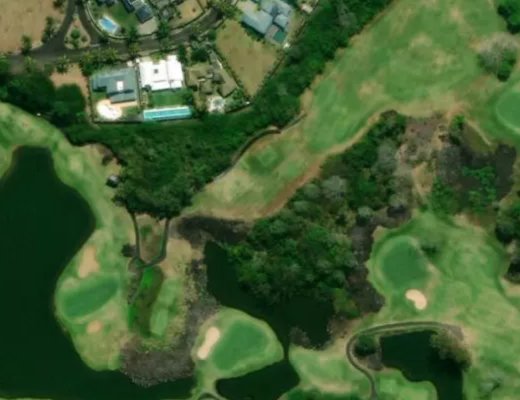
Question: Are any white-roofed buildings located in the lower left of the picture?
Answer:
No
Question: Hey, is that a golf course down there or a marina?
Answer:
golf course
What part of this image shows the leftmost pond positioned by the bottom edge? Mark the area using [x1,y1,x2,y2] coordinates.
[205,242,333,400]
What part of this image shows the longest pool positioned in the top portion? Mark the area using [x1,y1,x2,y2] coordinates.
[144,106,189,121]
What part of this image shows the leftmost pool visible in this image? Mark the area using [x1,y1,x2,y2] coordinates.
[98,15,121,35]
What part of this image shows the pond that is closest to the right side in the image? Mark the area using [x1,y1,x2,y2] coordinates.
[379,330,463,400]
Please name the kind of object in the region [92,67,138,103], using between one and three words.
house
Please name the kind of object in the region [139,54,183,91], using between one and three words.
house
